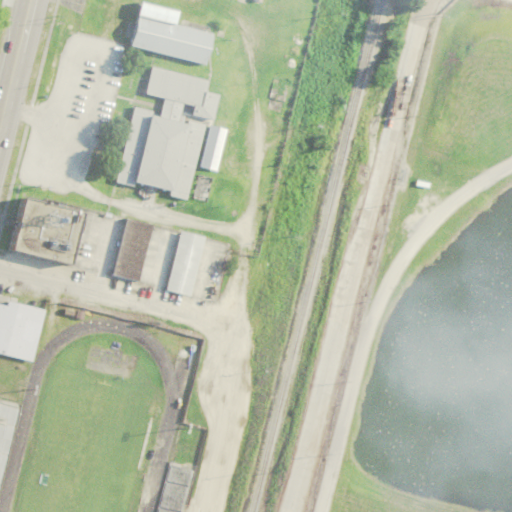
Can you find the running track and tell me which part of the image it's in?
bottom left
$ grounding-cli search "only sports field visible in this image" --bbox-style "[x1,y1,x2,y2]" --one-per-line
[12,336,164,512]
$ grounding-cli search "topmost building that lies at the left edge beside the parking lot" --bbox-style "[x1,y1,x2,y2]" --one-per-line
[14,199,86,264]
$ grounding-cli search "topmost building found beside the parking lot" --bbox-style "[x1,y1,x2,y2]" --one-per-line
[132,1,215,65]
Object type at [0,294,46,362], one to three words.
building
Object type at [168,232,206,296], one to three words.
shed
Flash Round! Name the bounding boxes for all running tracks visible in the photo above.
[0,320,182,512]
